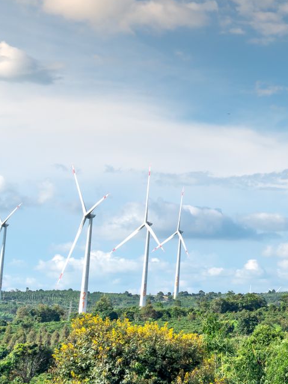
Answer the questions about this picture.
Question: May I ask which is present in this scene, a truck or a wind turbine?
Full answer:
It is a wind turbine that can be seen here.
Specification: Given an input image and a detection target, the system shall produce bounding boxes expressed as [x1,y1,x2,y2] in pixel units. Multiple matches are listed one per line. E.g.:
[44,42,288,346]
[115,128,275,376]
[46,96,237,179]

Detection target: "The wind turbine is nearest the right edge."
[152,188,189,298]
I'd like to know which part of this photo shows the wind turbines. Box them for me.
[113,163,166,307]
[60,167,110,311]
[0,203,22,300]
[152,188,189,298]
